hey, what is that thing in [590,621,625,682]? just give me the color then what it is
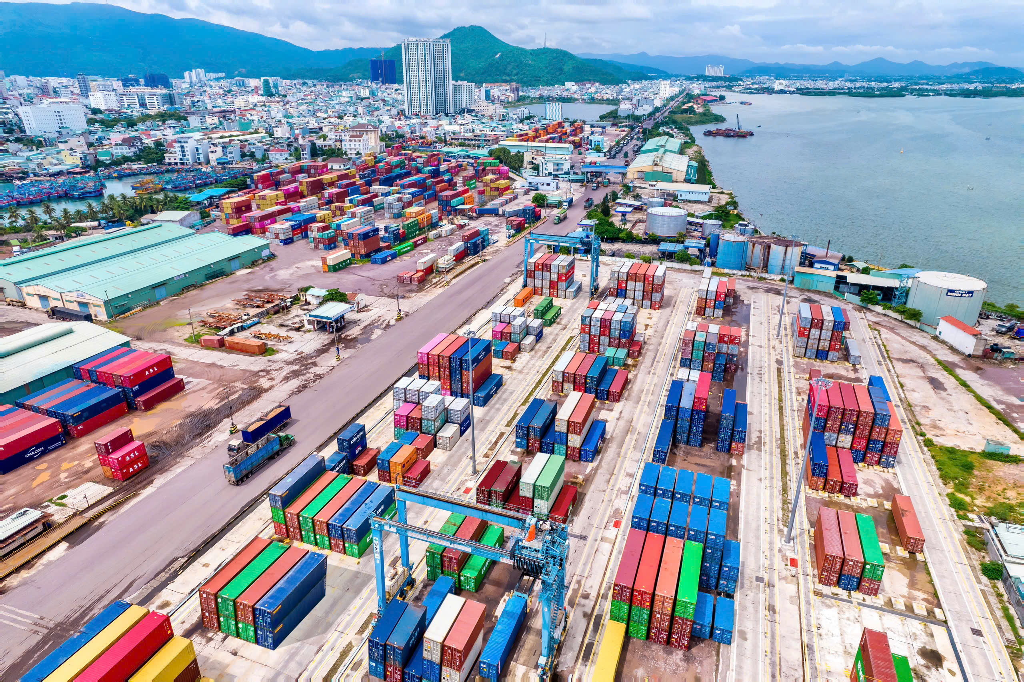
yellow shipping container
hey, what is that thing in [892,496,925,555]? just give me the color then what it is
red shipping container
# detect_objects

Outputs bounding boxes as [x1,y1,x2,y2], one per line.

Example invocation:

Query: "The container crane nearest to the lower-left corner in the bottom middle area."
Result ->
[356,472,582,682]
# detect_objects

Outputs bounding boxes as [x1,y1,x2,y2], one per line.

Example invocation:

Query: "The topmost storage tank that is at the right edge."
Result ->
[907,269,995,329]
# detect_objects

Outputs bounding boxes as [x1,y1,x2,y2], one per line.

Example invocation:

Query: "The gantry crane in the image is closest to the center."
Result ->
[519,228,605,298]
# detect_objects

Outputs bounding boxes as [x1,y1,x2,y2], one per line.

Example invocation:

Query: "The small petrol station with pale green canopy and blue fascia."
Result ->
[303,301,359,333]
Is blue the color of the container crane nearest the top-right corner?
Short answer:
Yes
